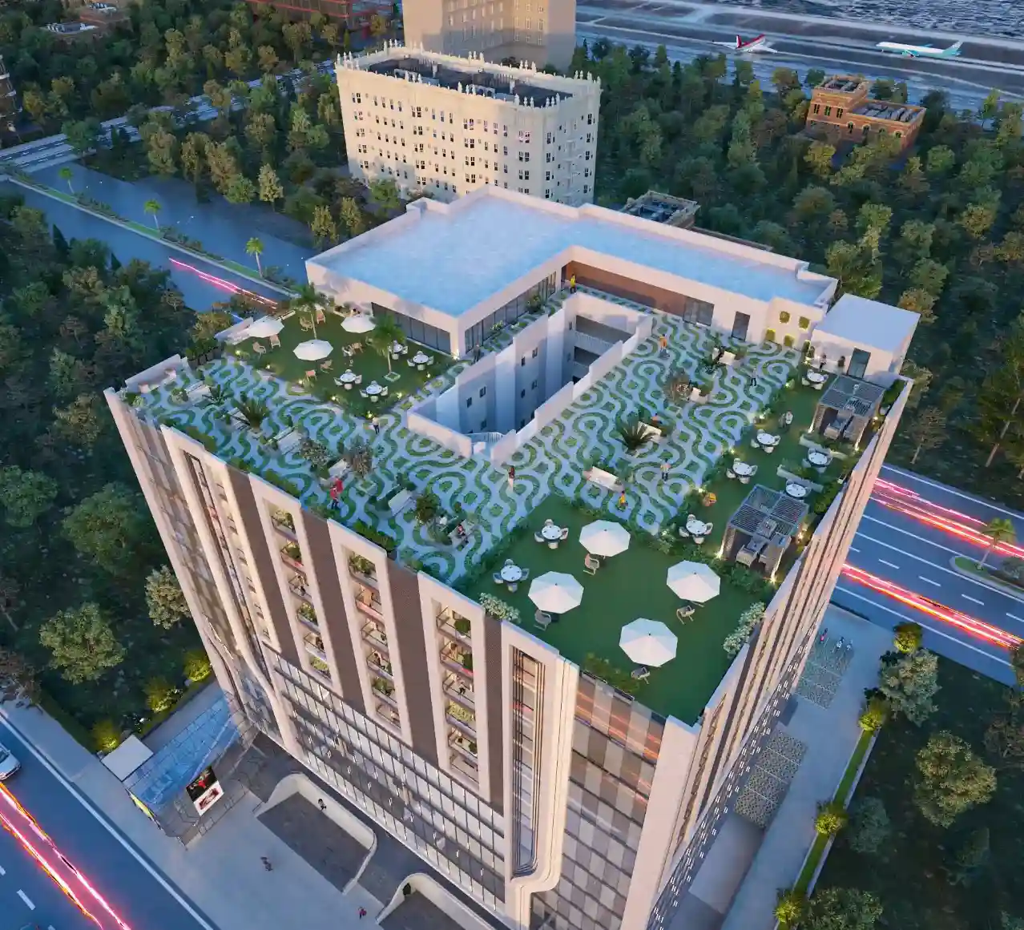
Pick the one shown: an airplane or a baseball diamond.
airplane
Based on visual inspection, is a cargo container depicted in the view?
No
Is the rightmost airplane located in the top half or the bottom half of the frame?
top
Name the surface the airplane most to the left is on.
grass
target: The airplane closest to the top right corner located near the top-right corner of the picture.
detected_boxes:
[876,35,967,61]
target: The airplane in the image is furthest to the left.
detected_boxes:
[711,32,782,55]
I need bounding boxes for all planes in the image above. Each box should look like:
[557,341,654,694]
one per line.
[711,32,782,55]
[876,35,967,61]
